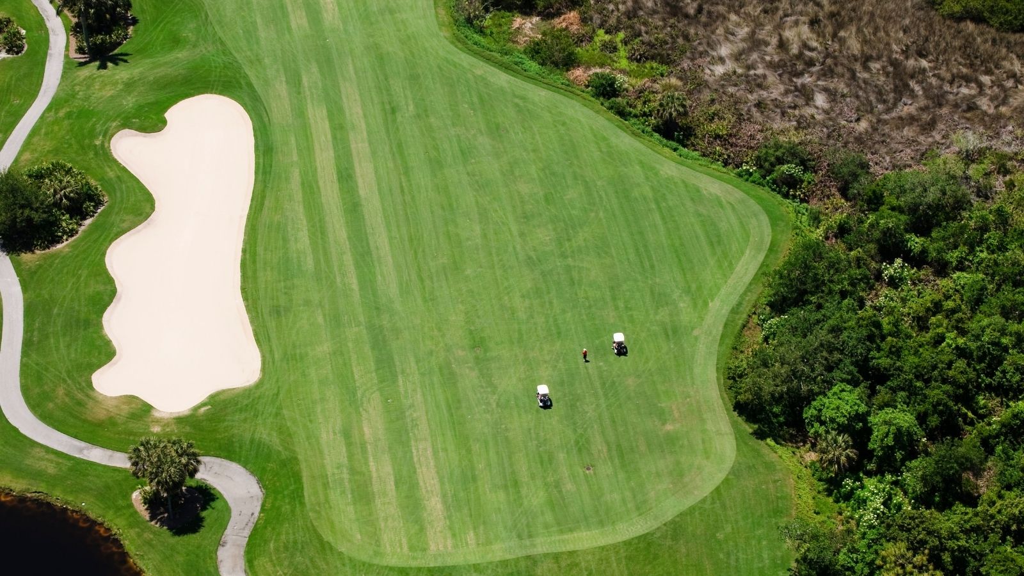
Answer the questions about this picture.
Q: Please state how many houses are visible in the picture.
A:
zero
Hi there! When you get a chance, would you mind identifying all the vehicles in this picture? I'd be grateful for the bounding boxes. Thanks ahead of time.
[536,385,552,410]
[613,333,627,355]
